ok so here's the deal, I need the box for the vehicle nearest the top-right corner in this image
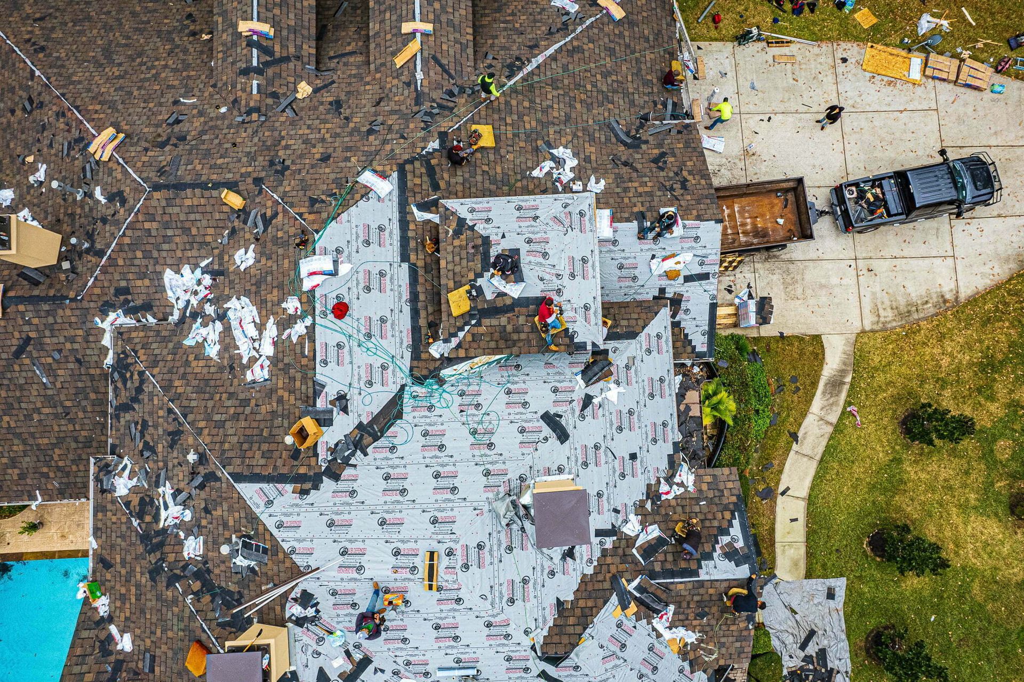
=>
[830,140,1007,239]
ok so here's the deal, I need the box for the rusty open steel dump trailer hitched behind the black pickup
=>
[712,175,833,258]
